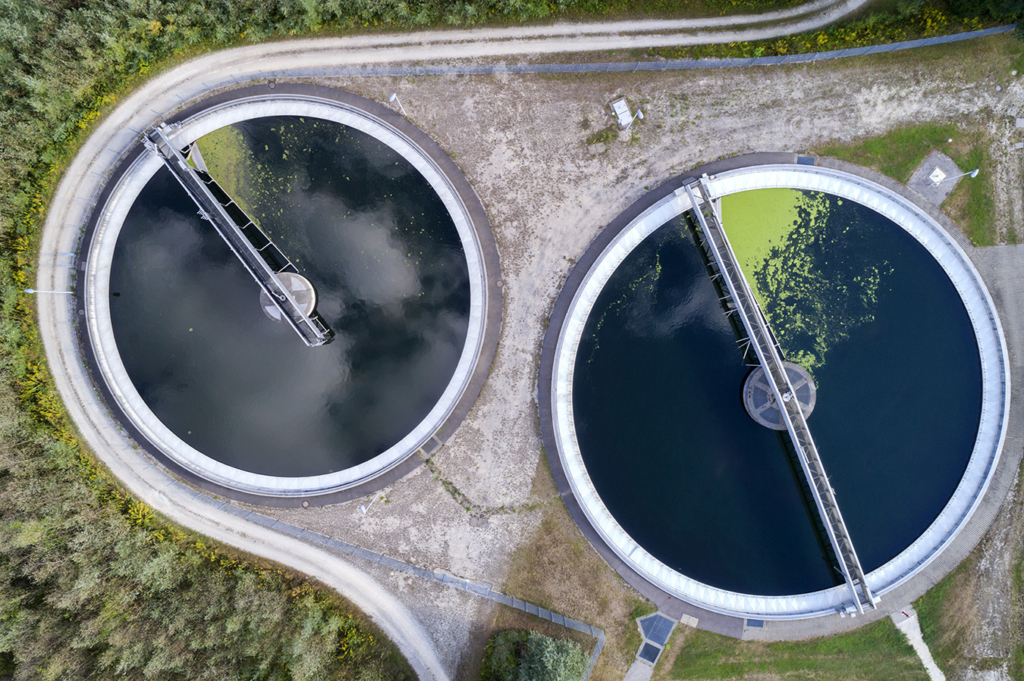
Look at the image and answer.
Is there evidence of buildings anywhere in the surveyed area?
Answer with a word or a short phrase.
No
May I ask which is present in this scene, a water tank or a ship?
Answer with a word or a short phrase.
water tank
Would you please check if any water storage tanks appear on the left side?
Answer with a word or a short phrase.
Yes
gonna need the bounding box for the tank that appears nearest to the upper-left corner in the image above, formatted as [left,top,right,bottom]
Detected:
[84,91,488,495]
